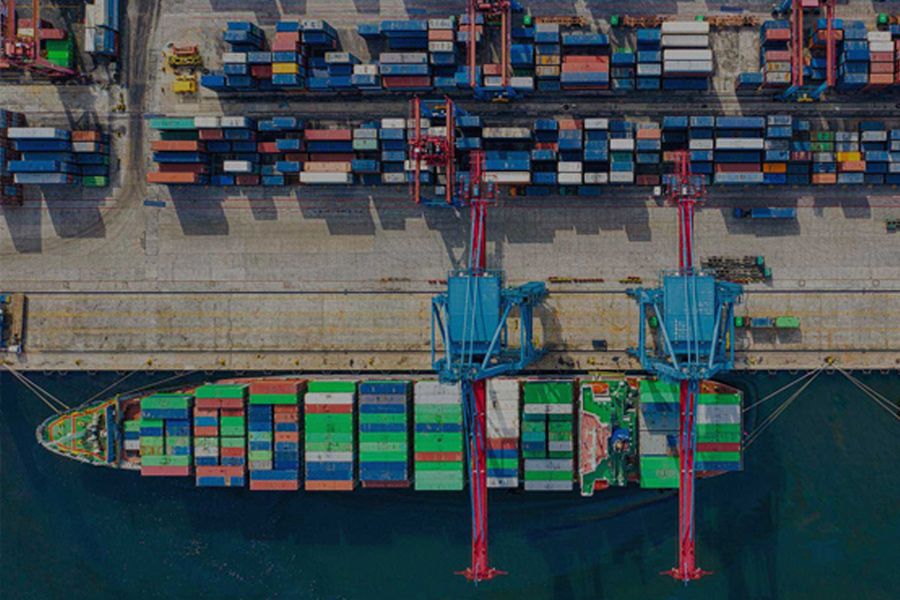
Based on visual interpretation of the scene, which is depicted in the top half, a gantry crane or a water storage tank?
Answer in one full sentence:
You can see a gantry crane in the top half.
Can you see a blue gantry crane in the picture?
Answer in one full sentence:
Yes, the photo shows a blue gantry crane.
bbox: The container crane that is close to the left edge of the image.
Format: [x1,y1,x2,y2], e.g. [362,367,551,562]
[4,0,90,79]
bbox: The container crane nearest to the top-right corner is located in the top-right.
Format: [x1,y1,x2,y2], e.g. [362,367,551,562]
[773,0,837,101]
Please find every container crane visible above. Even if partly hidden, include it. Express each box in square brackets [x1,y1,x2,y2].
[4,0,90,79]
[430,148,547,589]
[773,0,837,101]
[410,96,472,209]
[627,148,743,589]
[465,0,524,101]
